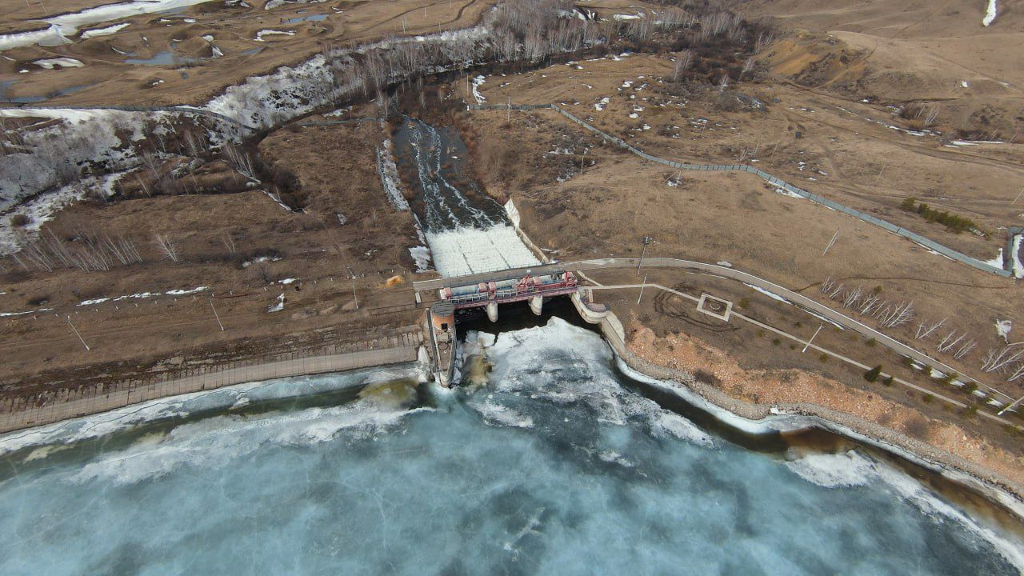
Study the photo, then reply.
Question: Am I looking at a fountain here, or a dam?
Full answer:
Looking from above, you can make out a dam.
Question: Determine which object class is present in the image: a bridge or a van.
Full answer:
I can see a bridge in this picture.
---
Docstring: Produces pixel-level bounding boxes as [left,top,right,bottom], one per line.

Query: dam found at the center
[414,200,632,365]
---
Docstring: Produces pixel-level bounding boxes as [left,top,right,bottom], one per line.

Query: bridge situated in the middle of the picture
[412,260,588,292]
